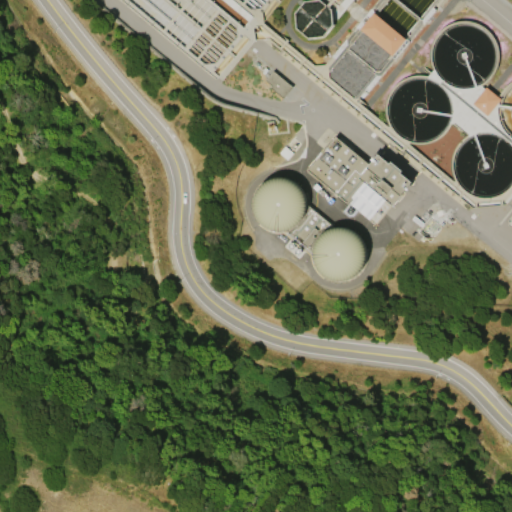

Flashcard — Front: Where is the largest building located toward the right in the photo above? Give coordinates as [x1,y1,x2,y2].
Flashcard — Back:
[308,136,411,225]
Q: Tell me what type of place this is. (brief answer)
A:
industrial area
